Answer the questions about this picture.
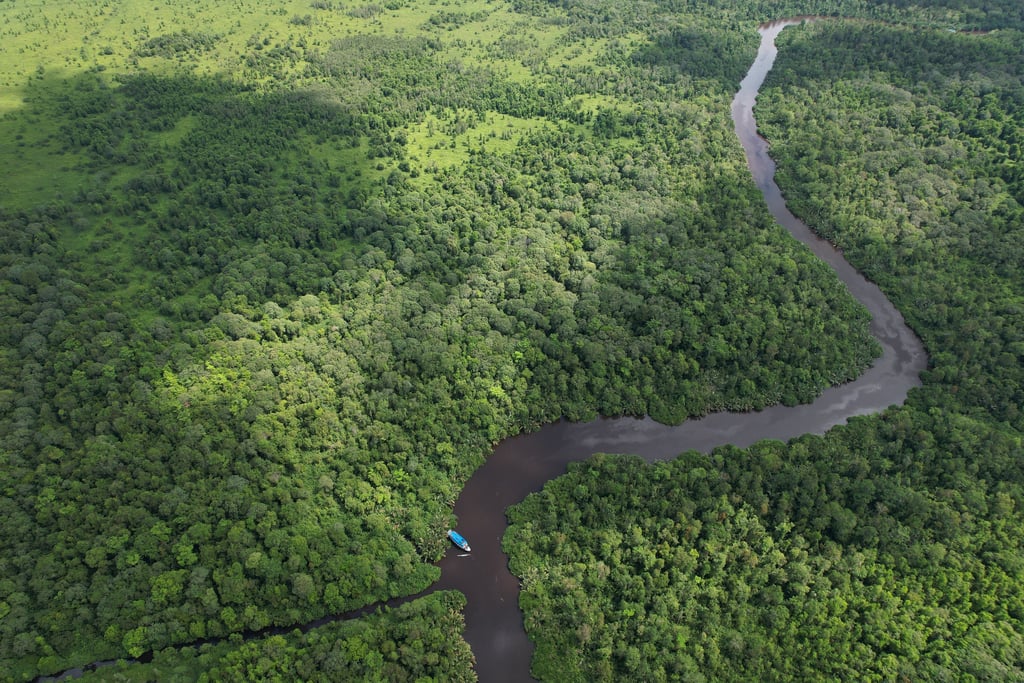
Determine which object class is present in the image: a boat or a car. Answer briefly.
boat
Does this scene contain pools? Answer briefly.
No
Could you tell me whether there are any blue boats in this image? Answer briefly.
Yes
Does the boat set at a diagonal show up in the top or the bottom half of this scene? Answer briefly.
bottom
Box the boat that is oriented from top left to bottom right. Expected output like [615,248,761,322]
[446,528,471,552]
